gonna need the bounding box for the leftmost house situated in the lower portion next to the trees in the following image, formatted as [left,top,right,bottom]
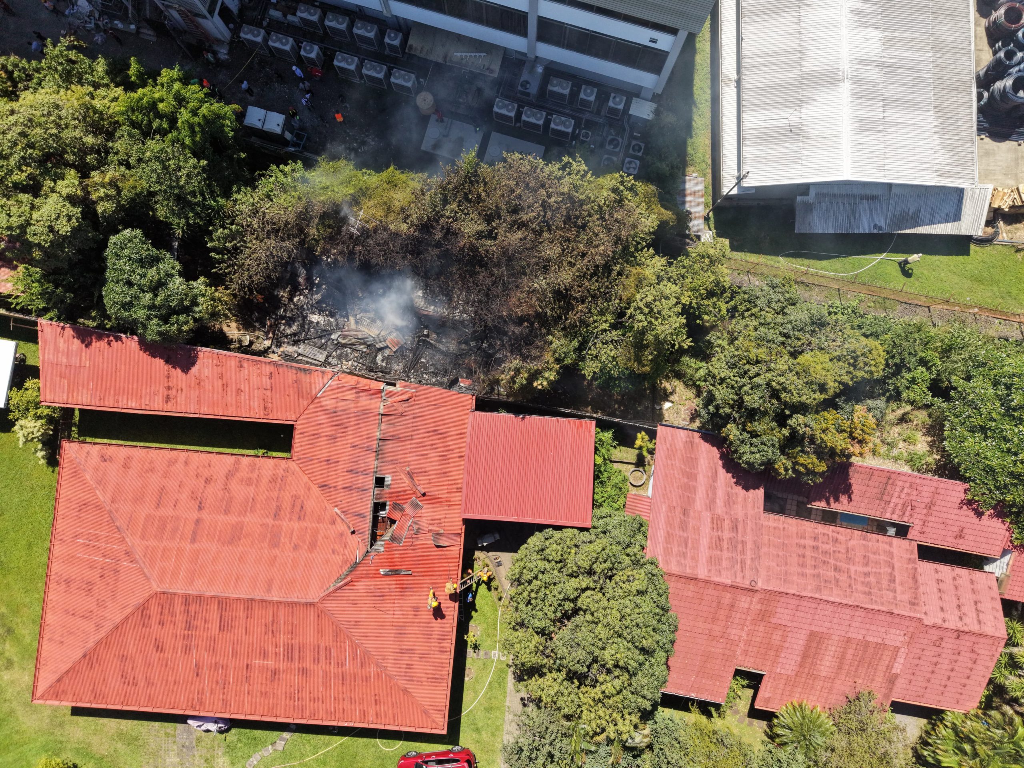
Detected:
[32,318,476,734]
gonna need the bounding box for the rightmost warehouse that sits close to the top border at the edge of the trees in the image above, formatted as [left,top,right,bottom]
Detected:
[715,0,979,209]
